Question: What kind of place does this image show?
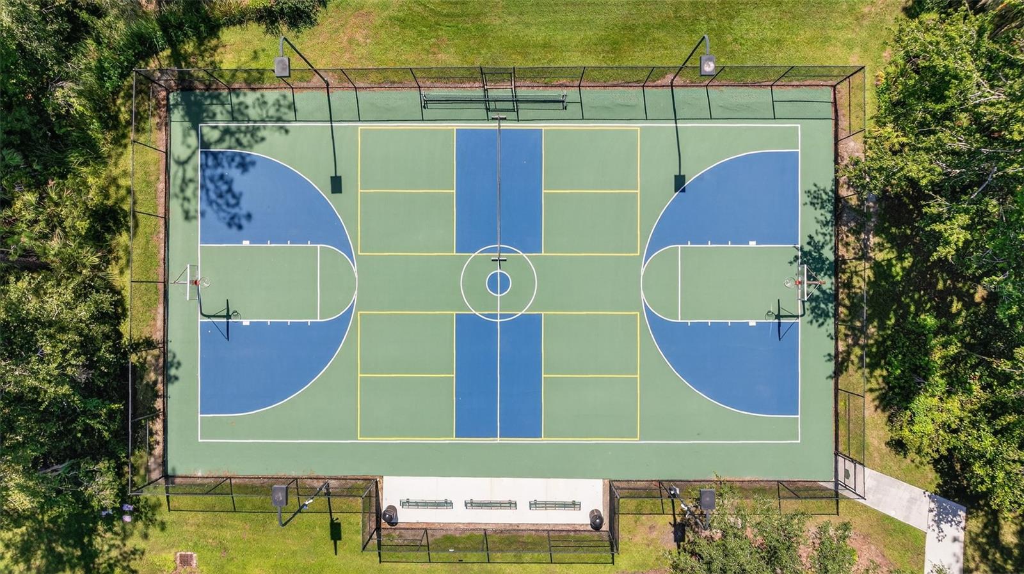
sports ground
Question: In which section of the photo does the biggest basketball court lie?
center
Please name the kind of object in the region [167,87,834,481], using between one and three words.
basketball court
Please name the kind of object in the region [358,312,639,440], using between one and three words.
sports court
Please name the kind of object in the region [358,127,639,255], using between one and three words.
sports court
